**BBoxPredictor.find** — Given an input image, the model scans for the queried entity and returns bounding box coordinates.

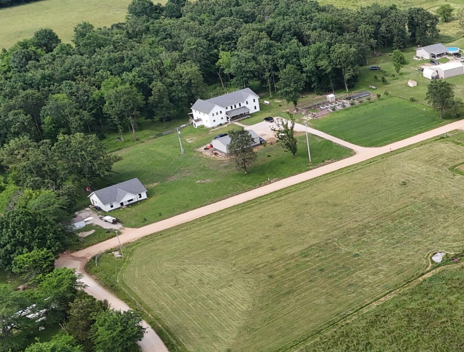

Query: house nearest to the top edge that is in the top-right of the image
[418,42,452,58]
